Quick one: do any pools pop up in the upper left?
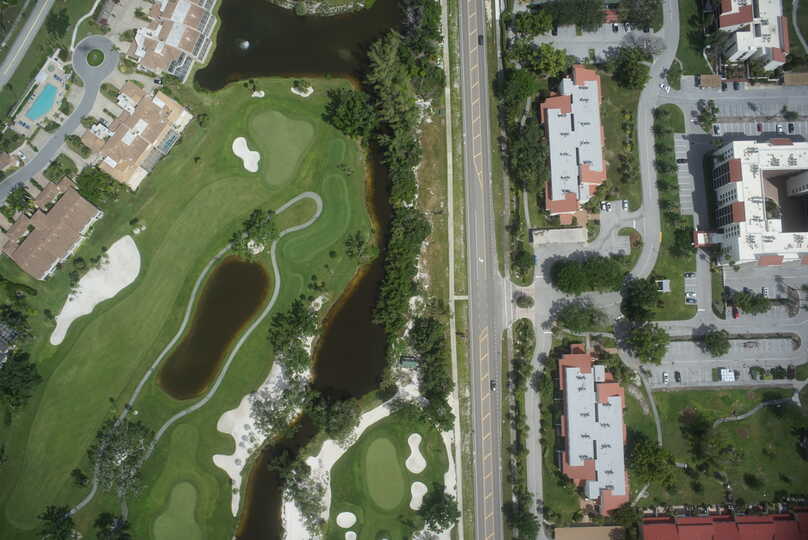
Yes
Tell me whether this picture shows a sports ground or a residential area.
residential area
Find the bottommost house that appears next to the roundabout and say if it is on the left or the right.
left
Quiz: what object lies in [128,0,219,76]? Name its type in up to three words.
house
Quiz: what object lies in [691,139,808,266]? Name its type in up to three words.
building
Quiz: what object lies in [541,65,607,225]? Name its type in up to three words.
building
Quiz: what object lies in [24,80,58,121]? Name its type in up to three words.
swimming pool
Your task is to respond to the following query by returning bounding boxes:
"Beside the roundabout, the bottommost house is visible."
[81,81,196,193]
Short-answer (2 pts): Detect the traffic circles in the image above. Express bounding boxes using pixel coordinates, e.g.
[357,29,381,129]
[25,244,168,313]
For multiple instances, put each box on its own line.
[71,34,118,79]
